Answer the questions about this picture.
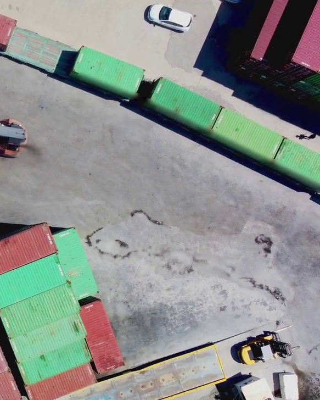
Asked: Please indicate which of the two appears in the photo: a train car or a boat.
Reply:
train car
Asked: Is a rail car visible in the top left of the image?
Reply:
Yes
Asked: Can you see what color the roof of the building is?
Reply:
white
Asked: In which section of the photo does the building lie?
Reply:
bottom right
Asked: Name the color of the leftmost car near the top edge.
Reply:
white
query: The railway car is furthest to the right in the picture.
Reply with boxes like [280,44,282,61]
[137,79,320,193]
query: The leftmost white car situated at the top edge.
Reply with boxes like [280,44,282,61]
[148,4,197,34]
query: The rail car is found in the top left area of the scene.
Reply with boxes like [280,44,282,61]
[0,25,143,102]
